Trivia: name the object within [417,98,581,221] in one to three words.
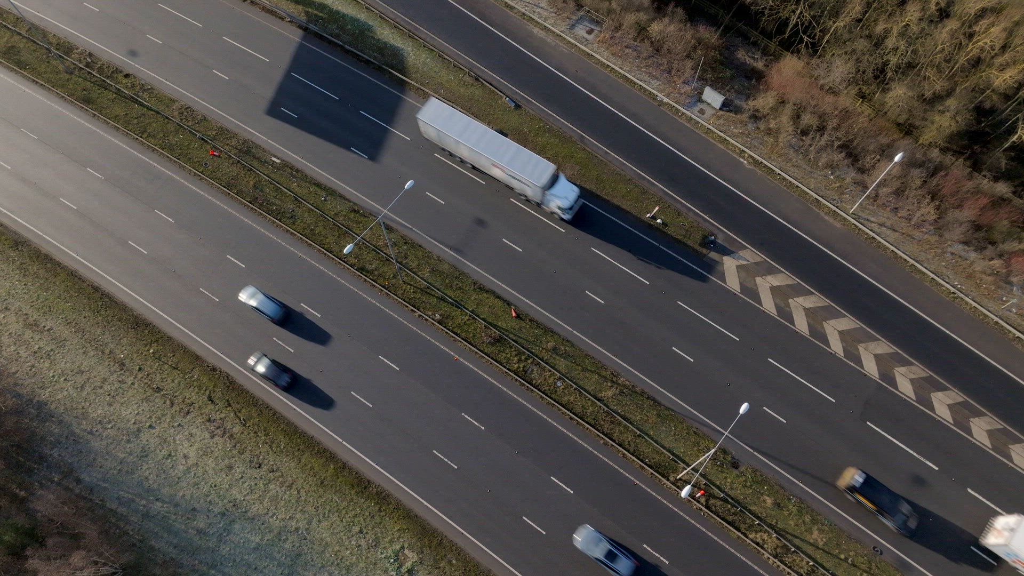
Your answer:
truck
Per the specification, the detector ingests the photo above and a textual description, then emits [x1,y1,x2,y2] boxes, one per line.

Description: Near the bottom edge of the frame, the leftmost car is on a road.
[578,526,636,576]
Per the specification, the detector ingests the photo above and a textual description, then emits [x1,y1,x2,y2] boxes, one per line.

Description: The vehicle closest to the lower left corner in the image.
[248,352,295,391]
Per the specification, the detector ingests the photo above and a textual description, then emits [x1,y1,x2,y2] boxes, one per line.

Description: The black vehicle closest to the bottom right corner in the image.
[838,468,910,527]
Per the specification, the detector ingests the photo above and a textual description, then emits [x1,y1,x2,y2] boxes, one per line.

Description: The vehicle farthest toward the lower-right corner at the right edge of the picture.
[976,511,1024,571]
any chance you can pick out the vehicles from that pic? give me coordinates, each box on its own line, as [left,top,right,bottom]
[240,287,288,325]
[976,511,1024,571]
[578,526,636,576]
[838,468,910,527]
[417,98,581,221]
[248,352,295,391]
